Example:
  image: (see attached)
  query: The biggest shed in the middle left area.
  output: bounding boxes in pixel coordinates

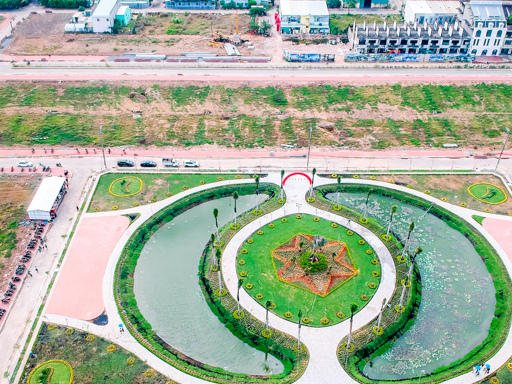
[23,168,73,221]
